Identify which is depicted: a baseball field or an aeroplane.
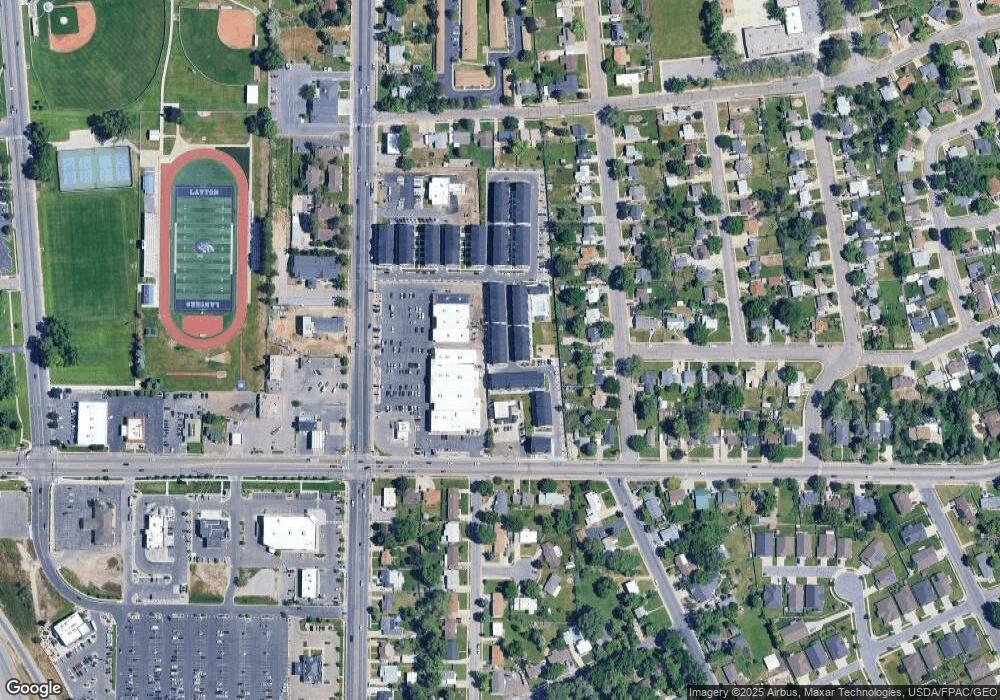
baseball field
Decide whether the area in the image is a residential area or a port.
residential area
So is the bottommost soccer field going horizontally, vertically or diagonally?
vertically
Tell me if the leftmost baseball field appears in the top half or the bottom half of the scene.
top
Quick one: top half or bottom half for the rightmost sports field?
top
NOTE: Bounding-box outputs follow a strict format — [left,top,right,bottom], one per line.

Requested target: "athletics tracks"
[160,148,249,350]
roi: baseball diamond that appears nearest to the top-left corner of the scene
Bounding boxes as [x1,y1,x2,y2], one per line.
[31,0,165,109]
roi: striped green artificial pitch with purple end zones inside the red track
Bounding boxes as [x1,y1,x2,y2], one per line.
[171,158,238,341]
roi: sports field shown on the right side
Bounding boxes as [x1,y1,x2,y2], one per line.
[651,0,707,61]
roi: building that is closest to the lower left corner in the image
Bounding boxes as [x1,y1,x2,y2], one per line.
[53,614,87,645]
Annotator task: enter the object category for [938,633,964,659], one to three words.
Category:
house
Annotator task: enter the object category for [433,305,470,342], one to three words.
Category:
building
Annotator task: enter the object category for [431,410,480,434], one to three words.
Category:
building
